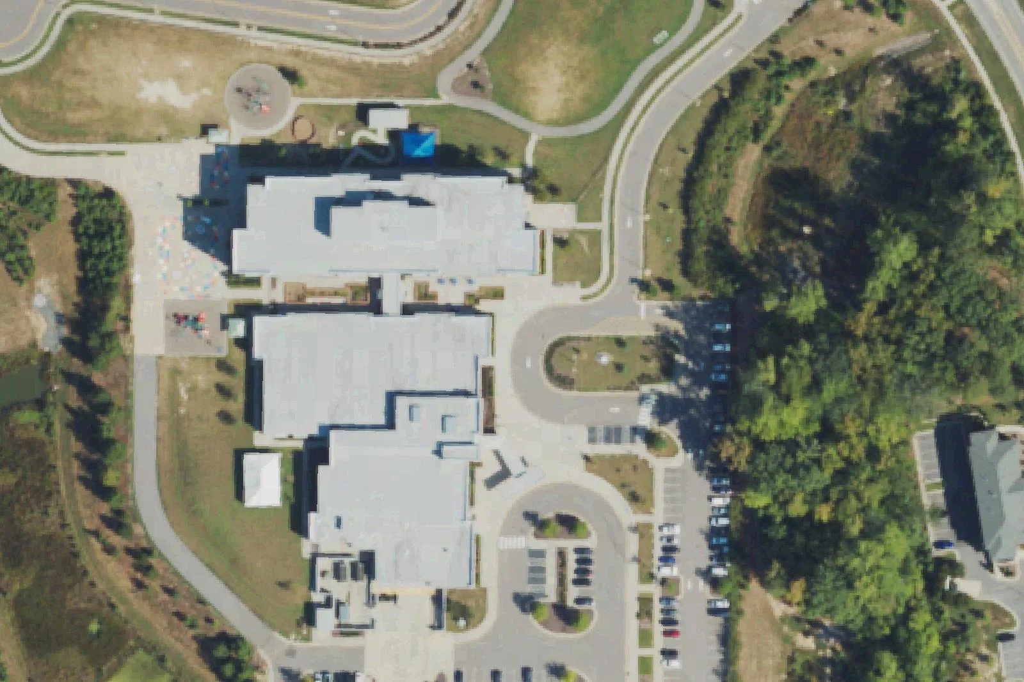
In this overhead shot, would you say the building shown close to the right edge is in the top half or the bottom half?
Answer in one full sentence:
The building shown close to the right edge sits in the bottom half of the picture.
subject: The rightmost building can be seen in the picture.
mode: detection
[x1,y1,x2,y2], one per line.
[969,428,1024,563]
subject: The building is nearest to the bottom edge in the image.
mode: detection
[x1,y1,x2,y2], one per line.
[316,607,333,630]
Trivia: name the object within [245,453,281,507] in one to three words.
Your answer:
building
